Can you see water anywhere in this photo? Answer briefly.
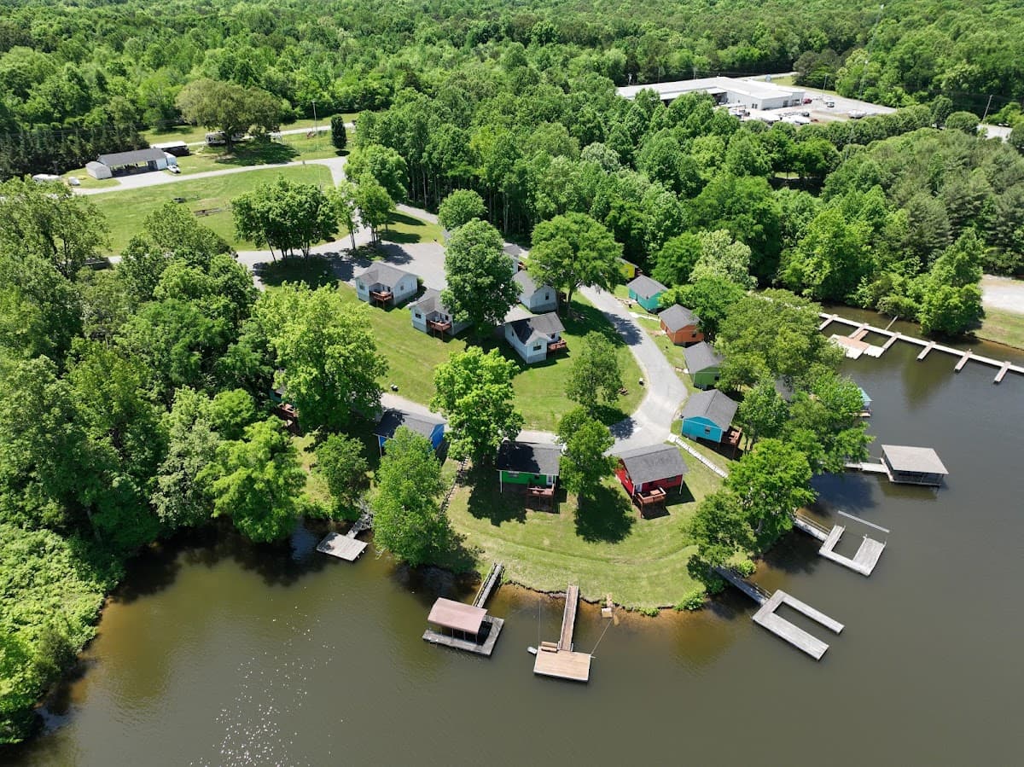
Yes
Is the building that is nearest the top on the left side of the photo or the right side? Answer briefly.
right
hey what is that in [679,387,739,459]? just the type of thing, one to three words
building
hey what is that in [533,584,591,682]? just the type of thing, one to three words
pier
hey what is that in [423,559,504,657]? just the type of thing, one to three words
pier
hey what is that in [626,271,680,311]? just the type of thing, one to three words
building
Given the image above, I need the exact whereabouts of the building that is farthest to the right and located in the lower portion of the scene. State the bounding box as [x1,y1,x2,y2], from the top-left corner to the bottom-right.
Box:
[879,444,948,489]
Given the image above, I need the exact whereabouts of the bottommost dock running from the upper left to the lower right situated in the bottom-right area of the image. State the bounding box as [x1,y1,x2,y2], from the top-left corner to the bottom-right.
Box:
[719,564,844,660]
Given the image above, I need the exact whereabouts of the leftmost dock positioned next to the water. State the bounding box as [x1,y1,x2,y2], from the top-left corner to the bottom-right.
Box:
[317,504,373,562]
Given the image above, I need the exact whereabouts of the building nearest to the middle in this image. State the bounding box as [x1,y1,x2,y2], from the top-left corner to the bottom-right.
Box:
[494,313,566,364]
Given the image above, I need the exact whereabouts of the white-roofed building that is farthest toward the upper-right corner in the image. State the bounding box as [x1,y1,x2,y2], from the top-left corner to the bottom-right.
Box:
[624,79,814,112]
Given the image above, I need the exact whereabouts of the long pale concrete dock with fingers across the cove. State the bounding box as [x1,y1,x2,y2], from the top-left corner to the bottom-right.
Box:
[741,290,1024,386]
